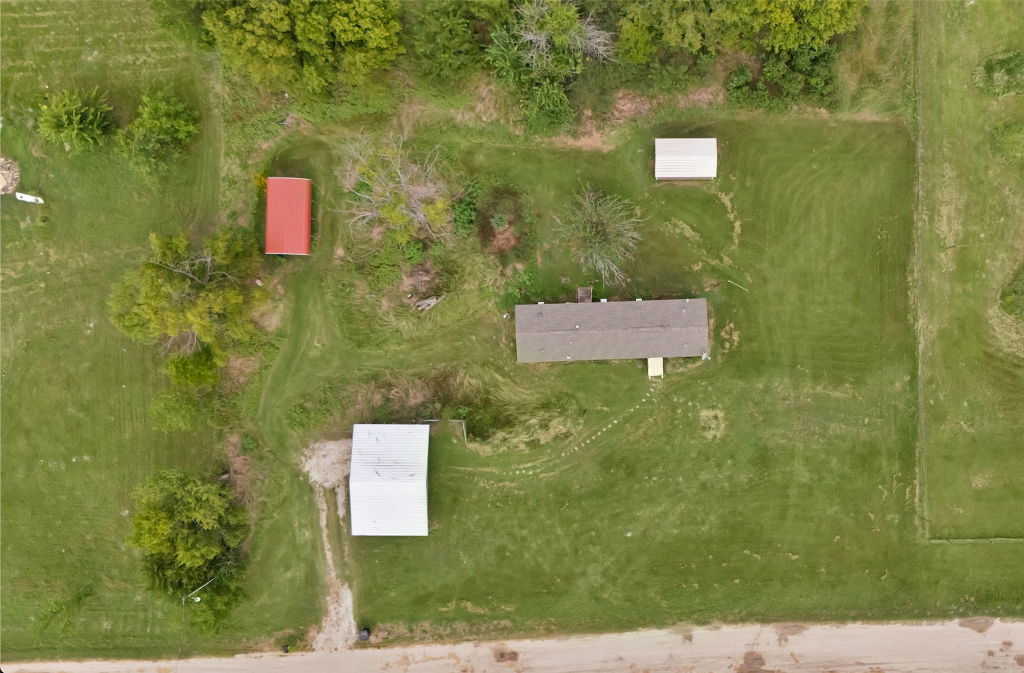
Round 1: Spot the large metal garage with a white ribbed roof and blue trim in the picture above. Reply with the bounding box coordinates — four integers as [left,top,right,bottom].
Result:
[349,423,430,536]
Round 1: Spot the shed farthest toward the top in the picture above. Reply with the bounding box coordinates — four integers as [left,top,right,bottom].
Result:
[651,138,718,183]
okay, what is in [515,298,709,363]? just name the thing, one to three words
house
